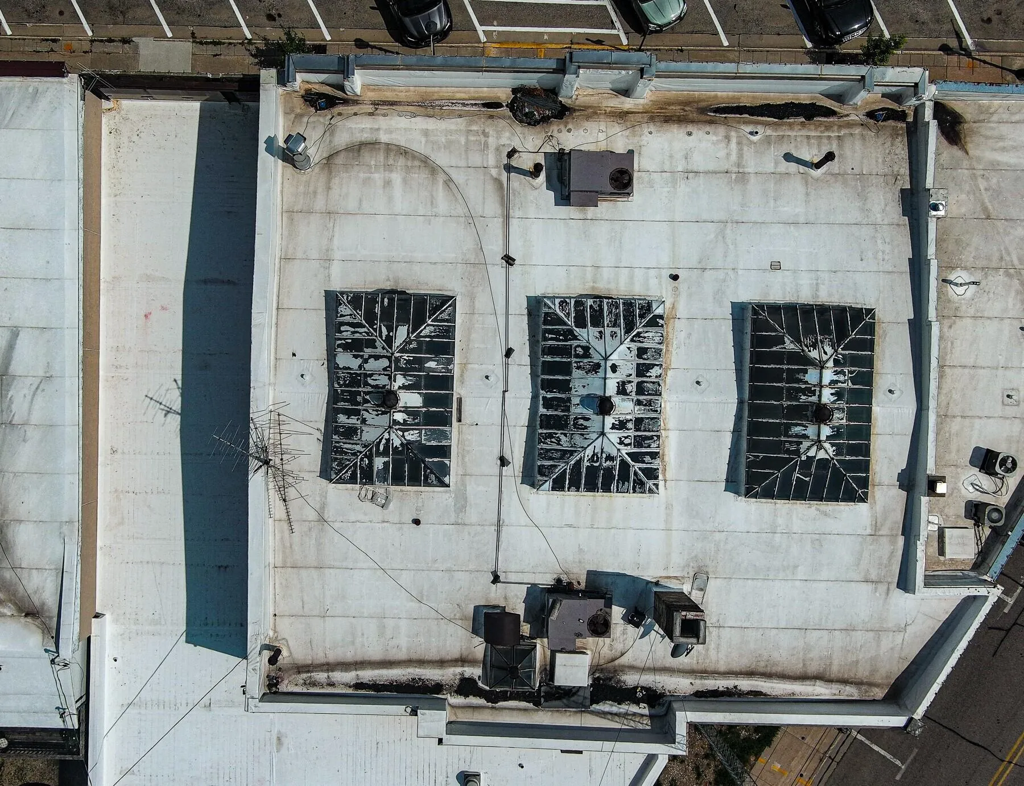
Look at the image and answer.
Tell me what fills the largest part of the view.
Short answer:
buildings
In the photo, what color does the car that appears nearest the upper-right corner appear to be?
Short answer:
black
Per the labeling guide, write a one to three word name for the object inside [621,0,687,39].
car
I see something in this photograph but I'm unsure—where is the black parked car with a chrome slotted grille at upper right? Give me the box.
[795,0,869,50]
